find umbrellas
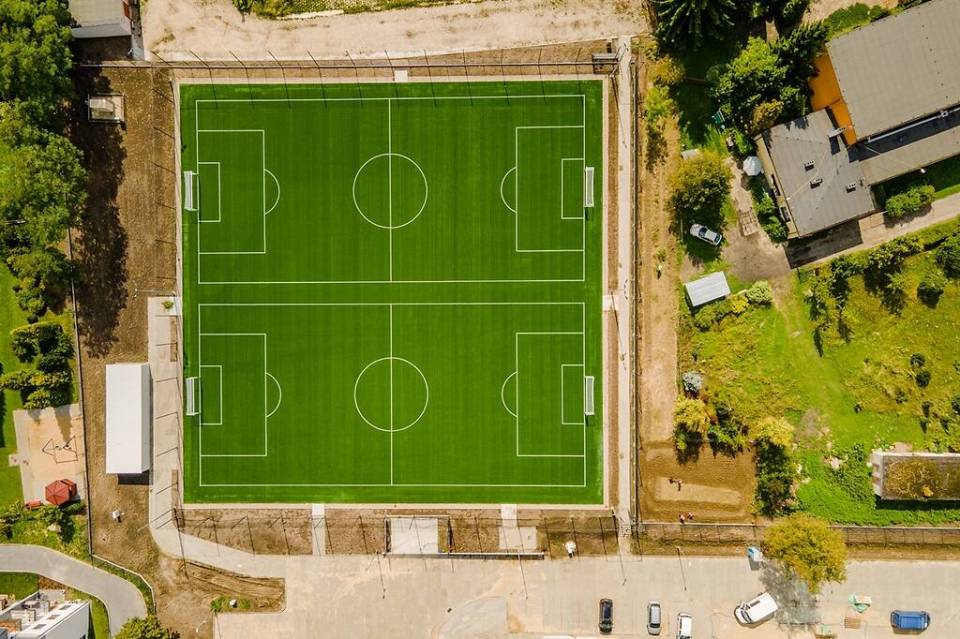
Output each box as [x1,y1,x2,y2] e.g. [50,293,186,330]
[47,479,73,504]
[743,157,760,174]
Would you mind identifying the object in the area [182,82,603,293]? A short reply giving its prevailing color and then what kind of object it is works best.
green soccer field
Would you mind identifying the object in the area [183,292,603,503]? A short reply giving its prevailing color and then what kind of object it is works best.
green soccer field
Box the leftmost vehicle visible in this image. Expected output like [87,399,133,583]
[598,597,614,632]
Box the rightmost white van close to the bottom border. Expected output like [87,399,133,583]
[737,593,776,624]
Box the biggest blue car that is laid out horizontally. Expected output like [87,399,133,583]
[890,610,927,630]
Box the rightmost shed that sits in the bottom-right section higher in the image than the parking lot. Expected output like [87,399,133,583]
[870,452,960,499]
